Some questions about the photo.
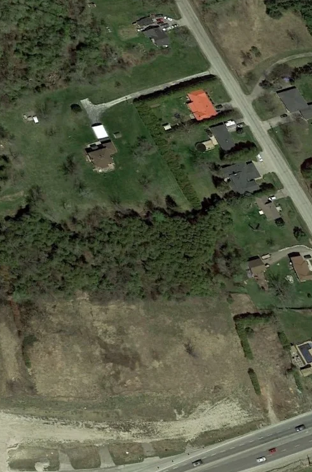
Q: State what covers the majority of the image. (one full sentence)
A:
Most of the picture is covered by grass.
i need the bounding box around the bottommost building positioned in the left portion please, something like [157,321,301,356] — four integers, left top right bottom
[86,139,116,173]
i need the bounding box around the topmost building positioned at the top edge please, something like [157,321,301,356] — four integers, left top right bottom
[136,15,170,51]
